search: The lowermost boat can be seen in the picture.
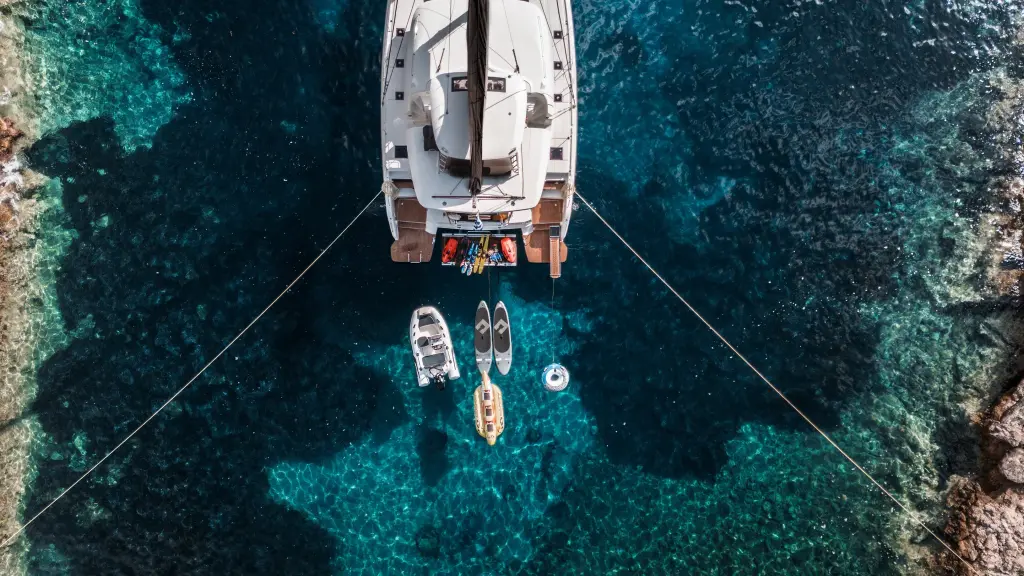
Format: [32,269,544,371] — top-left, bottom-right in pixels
[473,374,505,449]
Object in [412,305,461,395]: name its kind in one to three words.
boat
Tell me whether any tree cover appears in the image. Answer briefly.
No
